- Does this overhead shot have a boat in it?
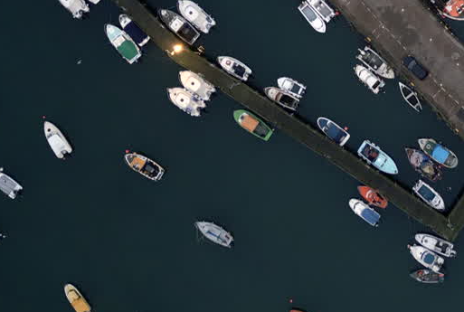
Yes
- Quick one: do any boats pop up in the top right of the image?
Yes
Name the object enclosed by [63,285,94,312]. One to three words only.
boat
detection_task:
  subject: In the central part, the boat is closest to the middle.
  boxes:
[233,109,277,145]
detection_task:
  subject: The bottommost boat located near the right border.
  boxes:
[410,270,444,284]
